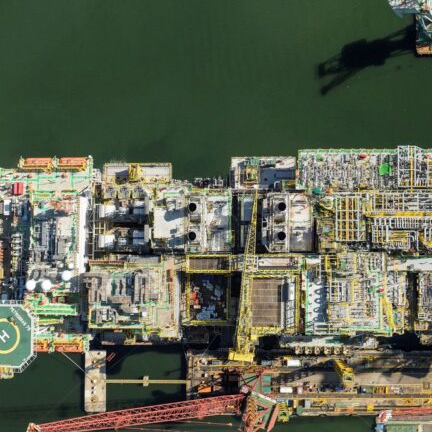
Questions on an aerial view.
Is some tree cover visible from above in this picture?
No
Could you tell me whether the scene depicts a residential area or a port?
port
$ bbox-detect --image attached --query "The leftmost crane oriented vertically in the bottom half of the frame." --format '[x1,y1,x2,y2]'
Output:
[229,189,265,366]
